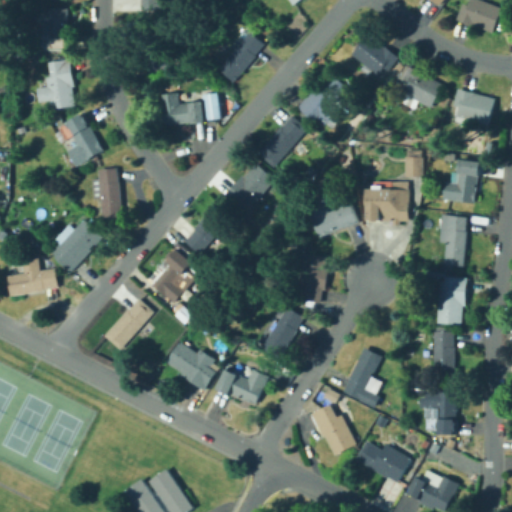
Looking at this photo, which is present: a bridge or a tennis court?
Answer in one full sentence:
The one in the frame is a tennis court.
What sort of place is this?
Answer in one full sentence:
The area seen from above is a residential area.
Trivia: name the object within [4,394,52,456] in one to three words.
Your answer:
tennis court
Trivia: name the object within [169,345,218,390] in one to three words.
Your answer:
house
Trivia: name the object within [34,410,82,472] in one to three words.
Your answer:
tennis court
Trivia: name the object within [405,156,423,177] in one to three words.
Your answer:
building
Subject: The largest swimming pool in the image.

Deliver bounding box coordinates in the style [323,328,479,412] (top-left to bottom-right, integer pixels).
[212,339,228,354]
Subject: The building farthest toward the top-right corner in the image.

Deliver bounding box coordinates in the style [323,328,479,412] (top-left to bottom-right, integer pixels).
[458,0,500,32]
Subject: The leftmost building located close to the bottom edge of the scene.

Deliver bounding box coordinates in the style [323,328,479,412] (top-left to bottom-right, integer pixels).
[130,478,168,512]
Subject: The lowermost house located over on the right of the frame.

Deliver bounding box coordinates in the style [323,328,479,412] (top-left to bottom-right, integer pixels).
[408,472,458,512]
